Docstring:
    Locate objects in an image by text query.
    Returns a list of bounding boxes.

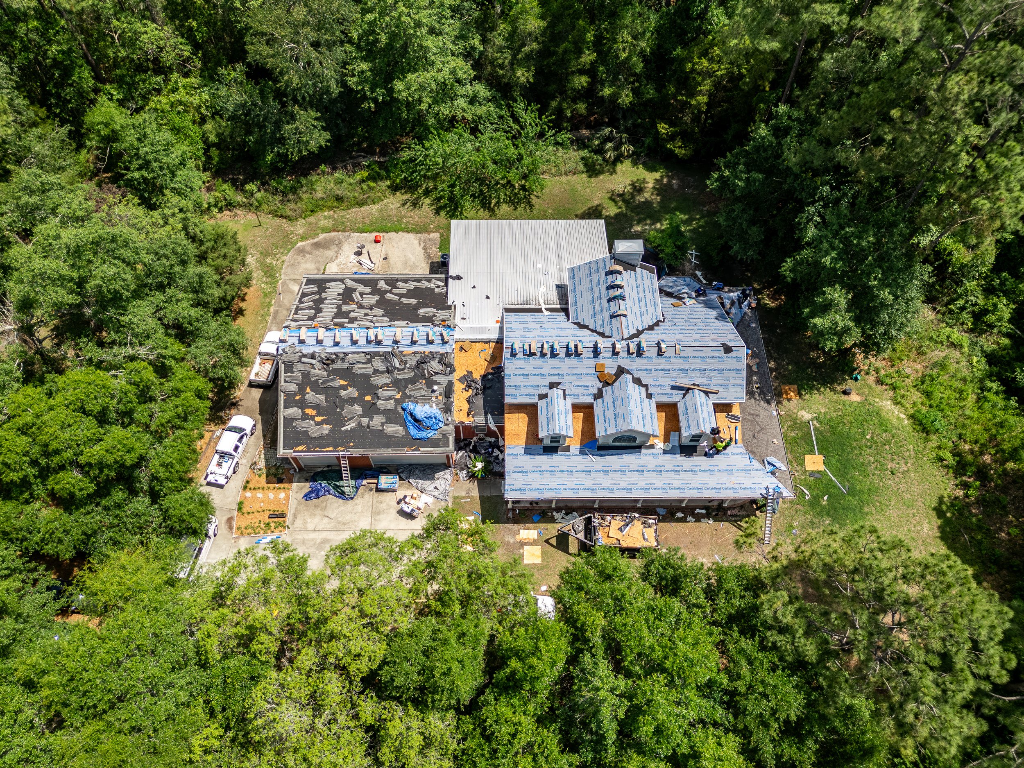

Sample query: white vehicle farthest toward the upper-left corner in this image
[250,333,281,390]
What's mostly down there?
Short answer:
trees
